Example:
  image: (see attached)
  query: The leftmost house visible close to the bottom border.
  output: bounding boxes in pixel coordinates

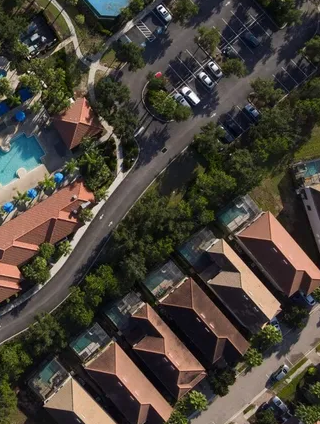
[43,371,117,424]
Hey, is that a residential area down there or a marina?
residential area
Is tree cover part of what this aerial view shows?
Yes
